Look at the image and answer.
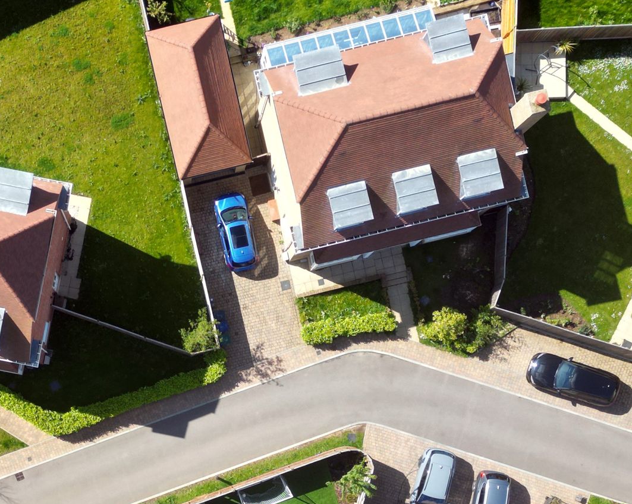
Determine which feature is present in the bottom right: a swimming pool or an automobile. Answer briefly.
automobile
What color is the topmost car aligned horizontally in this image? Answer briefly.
black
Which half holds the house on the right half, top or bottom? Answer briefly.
top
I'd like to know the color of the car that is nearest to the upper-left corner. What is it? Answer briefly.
blue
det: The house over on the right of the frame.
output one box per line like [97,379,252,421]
[251,2,551,269]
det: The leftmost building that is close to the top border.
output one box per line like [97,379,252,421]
[145,13,254,185]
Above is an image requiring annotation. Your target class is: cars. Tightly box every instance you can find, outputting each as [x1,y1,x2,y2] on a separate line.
[409,447,453,504]
[213,193,254,275]
[472,469,510,504]
[523,355,619,404]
